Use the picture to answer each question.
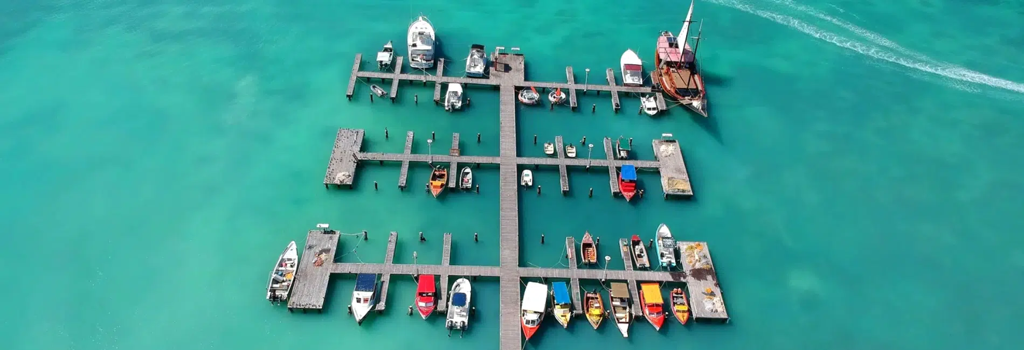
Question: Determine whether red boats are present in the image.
Yes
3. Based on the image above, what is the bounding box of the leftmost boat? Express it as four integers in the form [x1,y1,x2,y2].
[264,240,297,308]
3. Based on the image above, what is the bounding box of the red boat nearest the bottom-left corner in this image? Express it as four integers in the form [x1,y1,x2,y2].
[415,274,437,320]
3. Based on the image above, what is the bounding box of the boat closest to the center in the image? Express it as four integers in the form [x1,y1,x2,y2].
[521,169,533,192]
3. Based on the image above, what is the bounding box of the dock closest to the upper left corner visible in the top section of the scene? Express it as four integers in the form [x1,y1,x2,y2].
[346,54,362,99]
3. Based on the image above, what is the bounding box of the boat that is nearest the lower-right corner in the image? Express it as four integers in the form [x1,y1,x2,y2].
[668,287,689,327]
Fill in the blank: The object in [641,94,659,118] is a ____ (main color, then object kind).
white boat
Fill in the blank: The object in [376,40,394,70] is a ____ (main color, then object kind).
white boat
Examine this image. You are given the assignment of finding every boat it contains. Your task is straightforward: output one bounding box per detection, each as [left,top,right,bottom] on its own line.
[264,240,297,308]
[415,274,437,320]
[631,235,650,271]
[460,166,473,192]
[579,231,596,269]
[521,169,533,192]
[653,223,677,272]
[370,86,388,98]
[641,94,659,118]
[352,271,379,326]
[553,88,570,108]
[465,44,487,78]
[668,287,689,327]
[519,279,551,341]
[616,133,630,160]
[551,282,573,329]
[566,143,577,159]
[405,9,437,70]
[519,87,541,107]
[376,40,394,70]
[639,281,664,332]
[583,288,605,330]
[428,165,447,200]
[618,161,639,204]
[444,83,464,115]
[610,281,635,338]
[447,275,473,338]
[619,46,643,90]
[544,140,554,156]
